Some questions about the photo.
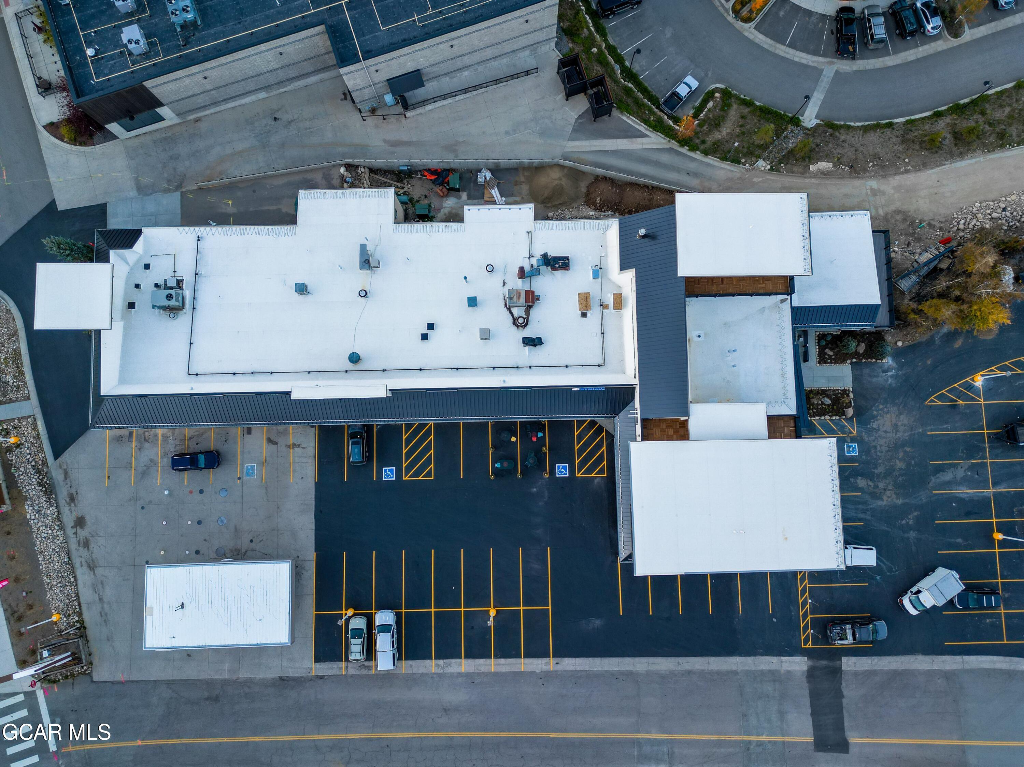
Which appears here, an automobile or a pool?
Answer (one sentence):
This aerial view contains an automobile.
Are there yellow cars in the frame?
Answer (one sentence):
No, there's no yellow car here.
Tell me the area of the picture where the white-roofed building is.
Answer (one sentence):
The white-roofed building appears toward the center of the photo.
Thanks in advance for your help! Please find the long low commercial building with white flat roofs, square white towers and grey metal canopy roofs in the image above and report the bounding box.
[33,187,897,576]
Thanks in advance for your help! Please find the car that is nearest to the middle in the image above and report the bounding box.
[345,425,371,468]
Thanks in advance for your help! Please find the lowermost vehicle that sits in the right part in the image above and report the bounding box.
[822,617,890,647]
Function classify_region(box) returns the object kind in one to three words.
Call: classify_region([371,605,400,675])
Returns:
vehicle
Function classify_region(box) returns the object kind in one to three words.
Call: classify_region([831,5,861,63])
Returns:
truck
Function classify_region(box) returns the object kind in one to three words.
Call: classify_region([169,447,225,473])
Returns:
car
